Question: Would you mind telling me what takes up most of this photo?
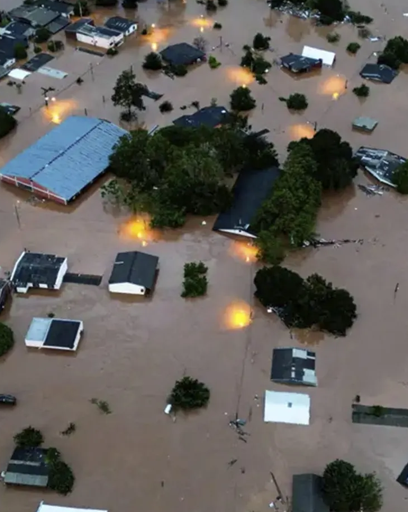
water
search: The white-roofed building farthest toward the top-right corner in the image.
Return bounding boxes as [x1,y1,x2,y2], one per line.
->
[301,45,335,71]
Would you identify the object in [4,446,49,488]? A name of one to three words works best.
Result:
house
